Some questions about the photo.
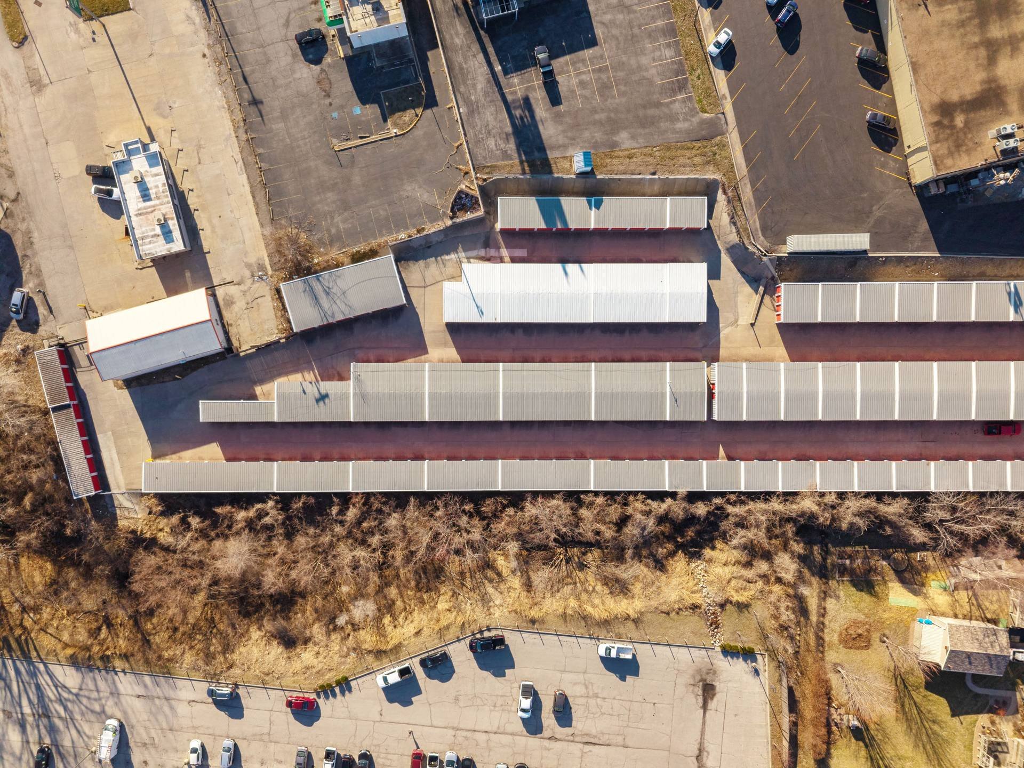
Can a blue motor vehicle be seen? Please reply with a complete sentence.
Yes, the picture does show a blue motor vehicle.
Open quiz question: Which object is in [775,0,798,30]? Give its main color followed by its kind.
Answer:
blue car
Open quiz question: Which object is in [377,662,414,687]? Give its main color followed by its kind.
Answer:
white truck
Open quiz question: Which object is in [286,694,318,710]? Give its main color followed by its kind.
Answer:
red car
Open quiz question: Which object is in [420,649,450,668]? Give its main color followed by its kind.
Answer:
black car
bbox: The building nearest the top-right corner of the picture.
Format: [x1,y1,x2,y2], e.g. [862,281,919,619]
[864,0,1024,187]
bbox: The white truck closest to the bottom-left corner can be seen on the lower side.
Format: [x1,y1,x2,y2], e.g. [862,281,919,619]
[92,717,121,766]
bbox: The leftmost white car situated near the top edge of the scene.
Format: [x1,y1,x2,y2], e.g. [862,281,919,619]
[708,27,732,59]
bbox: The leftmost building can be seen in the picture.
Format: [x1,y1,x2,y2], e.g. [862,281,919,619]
[33,345,105,499]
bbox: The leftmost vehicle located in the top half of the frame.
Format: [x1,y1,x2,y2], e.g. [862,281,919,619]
[11,289,30,320]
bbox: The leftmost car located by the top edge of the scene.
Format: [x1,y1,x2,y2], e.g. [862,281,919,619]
[294,27,327,47]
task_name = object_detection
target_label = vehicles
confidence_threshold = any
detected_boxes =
[357,748,371,768]
[462,754,474,768]
[469,633,505,652]
[189,738,204,768]
[410,747,424,768]
[708,27,732,59]
[294,27,327,47]
[377,662,414,687]
[293,744,308,768]
[982,422,1022,436]
[444,749,458,768]
[864,111,897,130]
[36,743,53,768]
[535,45,556,84]
[341,753,354,768]
[426,749,440,768]
[207,684,238,700]
[218,737,235,768]
[92,717,121,766]
[775,0,798,30]
[552,686,566,715]
[516,761,527,768]
[93,185,123,201]
[518,679,535,717]
[286,694,318,710]
[598,643,632,659]
[11,289,30,320]
[321,745,336,768]
[87,163,117,179]
[420,649,450,668]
